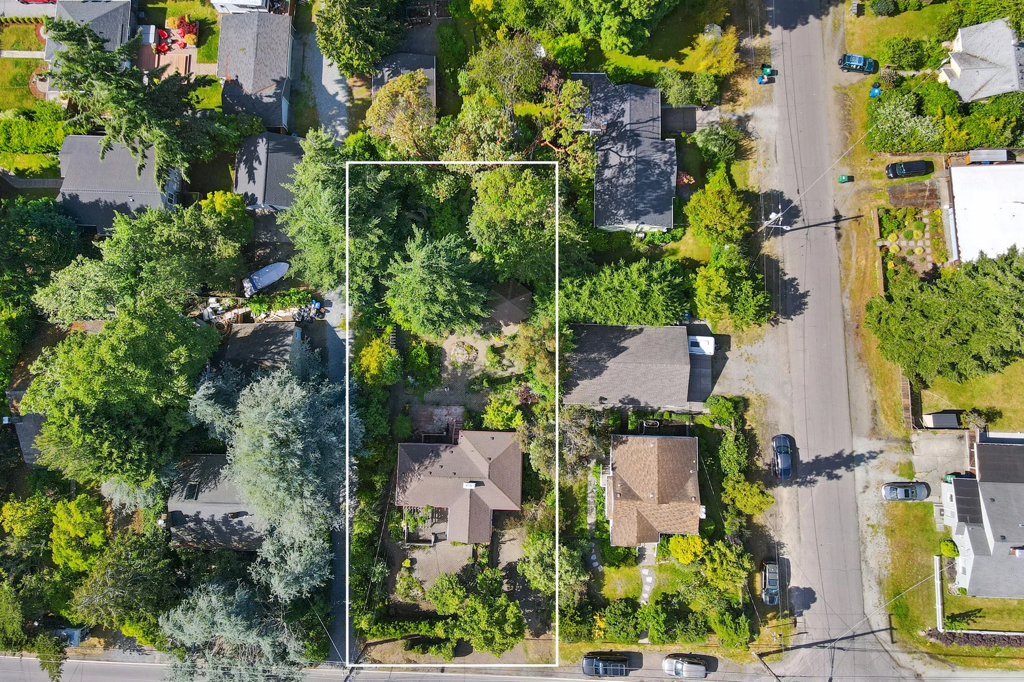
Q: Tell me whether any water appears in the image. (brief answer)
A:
No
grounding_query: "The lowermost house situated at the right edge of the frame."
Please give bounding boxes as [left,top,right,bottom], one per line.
[940,442,1024,598]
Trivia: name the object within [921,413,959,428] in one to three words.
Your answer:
shed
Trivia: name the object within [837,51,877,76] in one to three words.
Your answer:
car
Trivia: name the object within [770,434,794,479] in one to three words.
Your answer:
car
